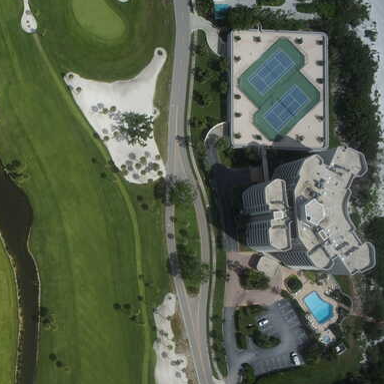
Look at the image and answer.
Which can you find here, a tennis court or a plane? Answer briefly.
tennis court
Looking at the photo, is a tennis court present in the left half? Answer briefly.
No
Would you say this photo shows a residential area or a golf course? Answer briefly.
golf course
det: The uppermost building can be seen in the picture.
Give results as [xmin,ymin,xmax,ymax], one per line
[227,29,330,153]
